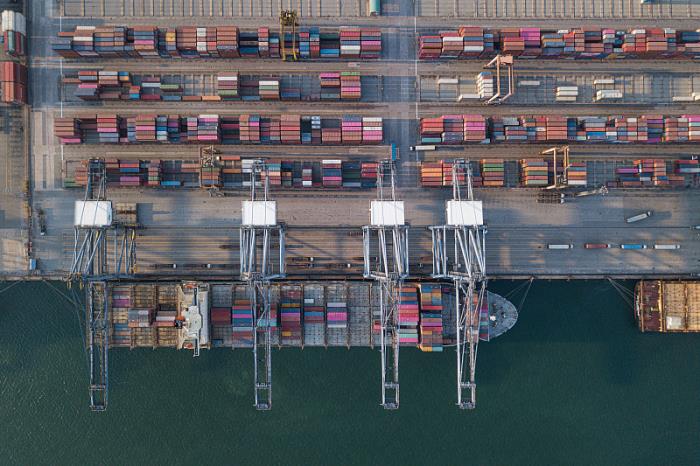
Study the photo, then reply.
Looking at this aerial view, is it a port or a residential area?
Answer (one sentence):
What you see here is a port.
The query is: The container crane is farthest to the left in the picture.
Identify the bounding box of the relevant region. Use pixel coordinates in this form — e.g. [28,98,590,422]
[57,161,140,410]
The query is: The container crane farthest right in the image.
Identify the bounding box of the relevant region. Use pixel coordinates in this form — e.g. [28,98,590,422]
[537,148,569,192]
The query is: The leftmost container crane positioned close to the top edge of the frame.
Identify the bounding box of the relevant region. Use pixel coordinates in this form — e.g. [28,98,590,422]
[280,7,304,62]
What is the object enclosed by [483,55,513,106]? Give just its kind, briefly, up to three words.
container crane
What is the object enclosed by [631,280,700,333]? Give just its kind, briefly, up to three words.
ship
